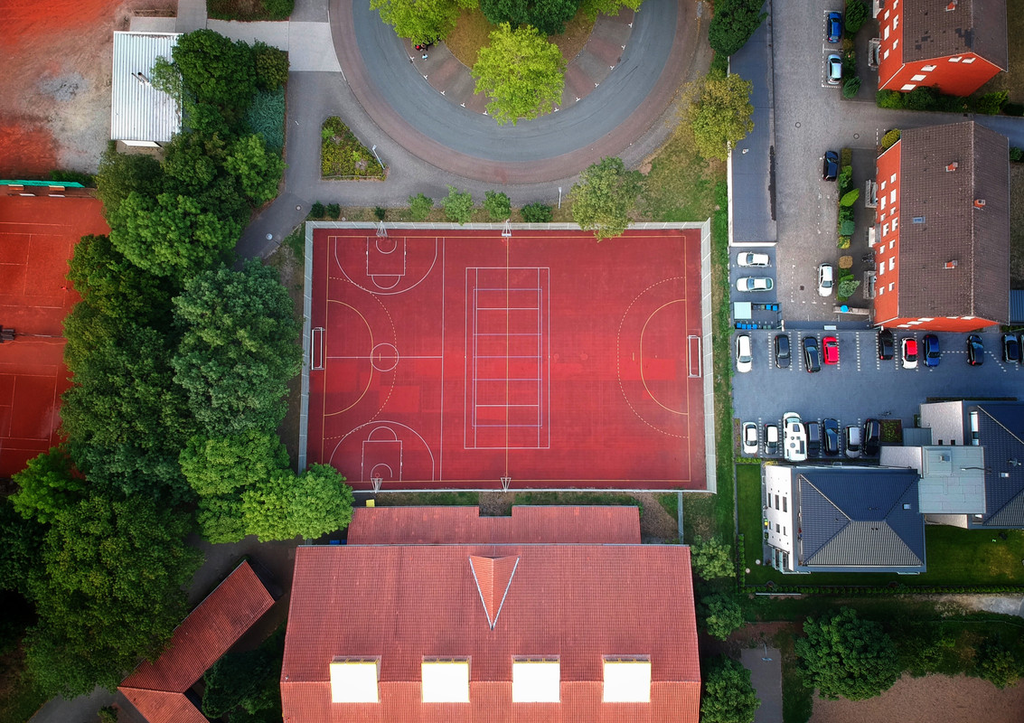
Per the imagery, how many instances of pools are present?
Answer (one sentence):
There are no pools in this view.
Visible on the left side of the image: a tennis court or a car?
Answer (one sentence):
What appears on the left side of the image is a tennis court.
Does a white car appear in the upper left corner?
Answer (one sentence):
No, no white car appears in the upper left corner.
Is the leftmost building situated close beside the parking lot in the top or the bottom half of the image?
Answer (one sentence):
Seen from above, the leftmost building situated close beside the parking lot lies in the bottom half of the view.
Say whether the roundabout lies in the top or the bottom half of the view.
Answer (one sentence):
The roundabout sits in the top half of the picture.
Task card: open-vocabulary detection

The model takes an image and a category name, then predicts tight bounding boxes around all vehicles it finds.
[801,337,821,373]
[825,55,843,86]
[817,263,835,297]
[826,14,843,43]
[877,329,895,360]
[899,337,919,370]
[736,251,769,267]
[999,333,1021,364]
[822,336,840,365]
[763,424,780,455]
[822,152,840,181]
[820,418,840,456]
[782,414,808,463]
[742,422,760,454]
[735,335,754,372]
[804,422,822,457]
[965,334,985,365]
[843,426,863,458]
[921,334,941,368]
[773,335,792,369]
[735,276,773,292]
[862,419,883,456]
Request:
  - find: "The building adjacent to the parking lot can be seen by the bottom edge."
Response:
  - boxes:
[280,505,701,723]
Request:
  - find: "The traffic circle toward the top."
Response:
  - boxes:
[330,0,703,185]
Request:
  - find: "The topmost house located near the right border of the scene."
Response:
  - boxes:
[867,0,1008,96]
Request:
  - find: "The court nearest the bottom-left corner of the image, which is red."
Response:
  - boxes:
[0,335,93,476]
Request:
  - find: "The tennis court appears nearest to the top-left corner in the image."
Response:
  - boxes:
[0,198,114,336]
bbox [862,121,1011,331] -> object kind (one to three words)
house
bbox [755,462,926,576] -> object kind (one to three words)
building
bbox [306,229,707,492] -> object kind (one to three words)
sports court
